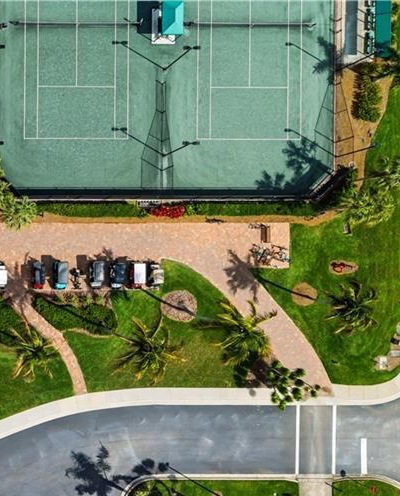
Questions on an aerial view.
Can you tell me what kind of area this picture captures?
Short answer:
sports ground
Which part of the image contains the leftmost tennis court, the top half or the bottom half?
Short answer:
top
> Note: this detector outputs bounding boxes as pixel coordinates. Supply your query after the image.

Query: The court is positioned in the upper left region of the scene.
[0,0,163,195]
